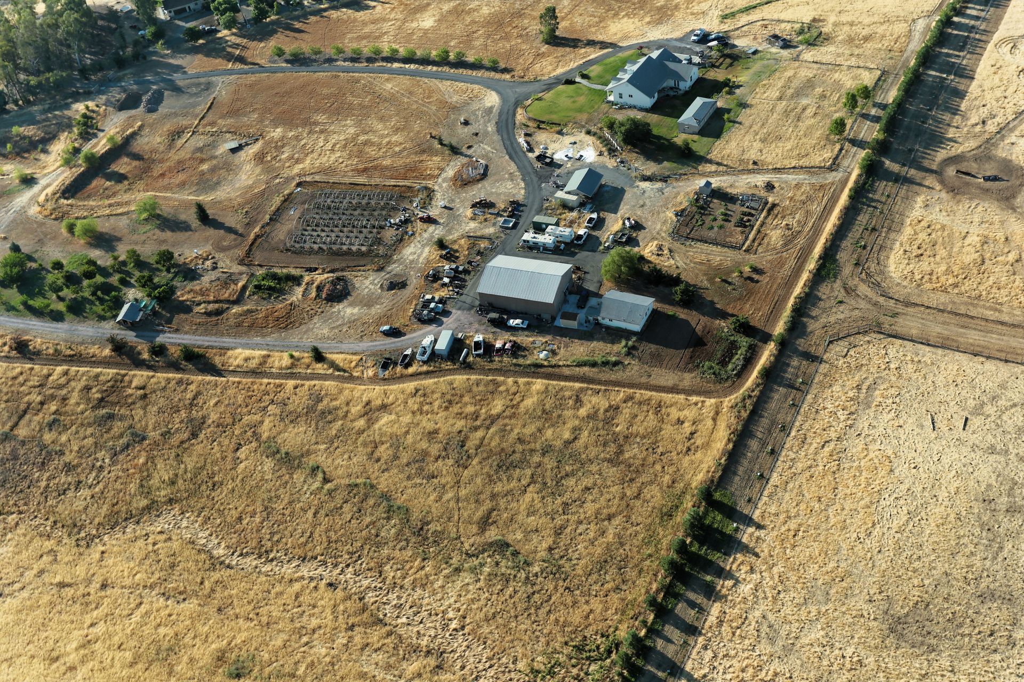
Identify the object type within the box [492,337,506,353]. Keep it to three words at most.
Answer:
vehicle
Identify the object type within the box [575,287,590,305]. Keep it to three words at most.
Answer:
car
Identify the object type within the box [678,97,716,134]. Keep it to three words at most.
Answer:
shed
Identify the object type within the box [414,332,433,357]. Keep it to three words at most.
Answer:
boat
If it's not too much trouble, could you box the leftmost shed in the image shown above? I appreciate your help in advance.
[115,301,146,332]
